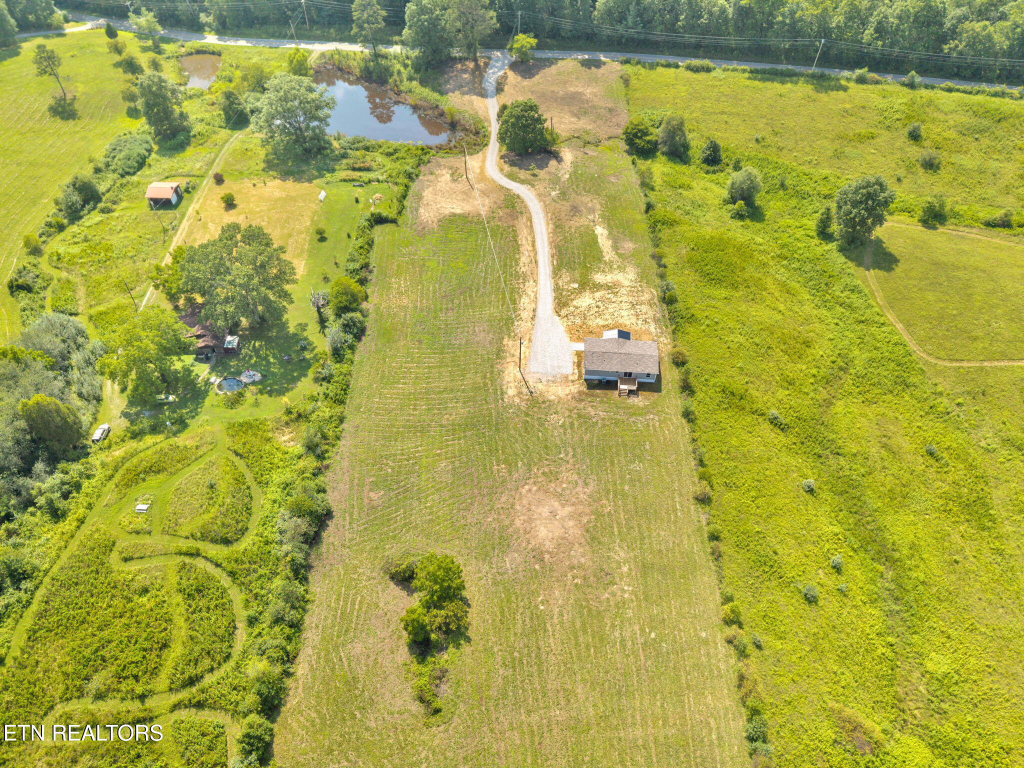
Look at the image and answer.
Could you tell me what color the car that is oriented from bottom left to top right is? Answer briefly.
white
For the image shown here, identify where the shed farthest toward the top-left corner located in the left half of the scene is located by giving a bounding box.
[146,186,178,204]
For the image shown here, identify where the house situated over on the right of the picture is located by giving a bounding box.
[584,328,659,382]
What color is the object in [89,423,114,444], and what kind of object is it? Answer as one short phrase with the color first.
white car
